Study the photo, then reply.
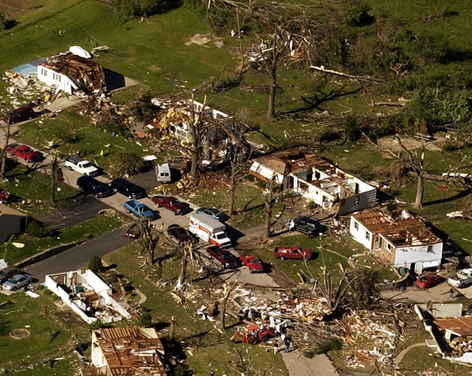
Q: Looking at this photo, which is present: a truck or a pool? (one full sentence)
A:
This aerial view contains a truck.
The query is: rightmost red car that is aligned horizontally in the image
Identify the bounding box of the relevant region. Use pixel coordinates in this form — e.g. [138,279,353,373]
[411,275,445,292]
